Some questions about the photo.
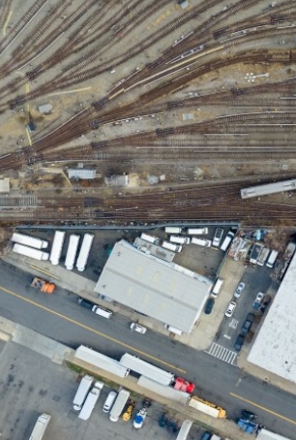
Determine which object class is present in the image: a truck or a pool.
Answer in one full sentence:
This aerial view contains a truck.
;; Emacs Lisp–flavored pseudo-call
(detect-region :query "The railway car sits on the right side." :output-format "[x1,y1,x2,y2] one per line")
[241,179,296,197]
